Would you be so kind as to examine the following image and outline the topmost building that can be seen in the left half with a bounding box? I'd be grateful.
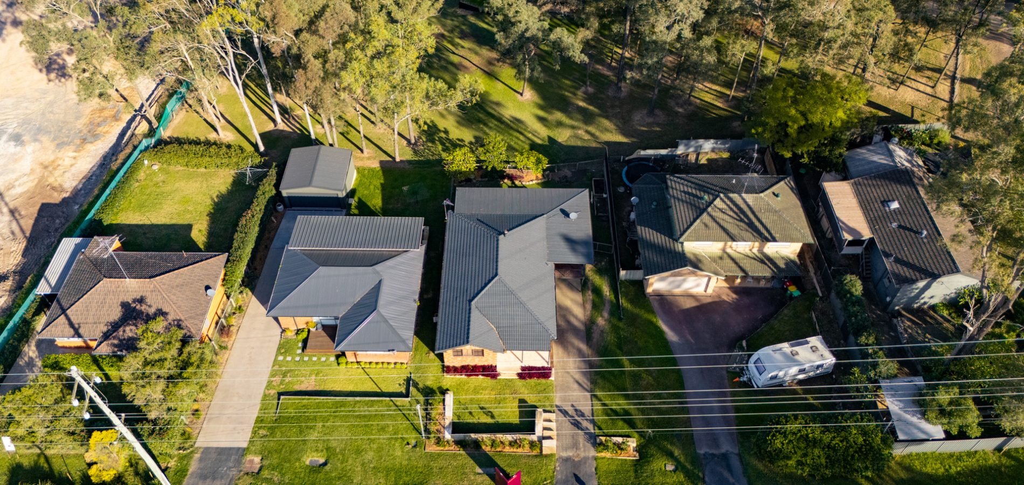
[280,144,355,210]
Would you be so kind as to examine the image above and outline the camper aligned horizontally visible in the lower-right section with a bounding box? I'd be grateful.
[731,336,835,391]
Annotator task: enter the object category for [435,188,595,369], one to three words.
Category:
house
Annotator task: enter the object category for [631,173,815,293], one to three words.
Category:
house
